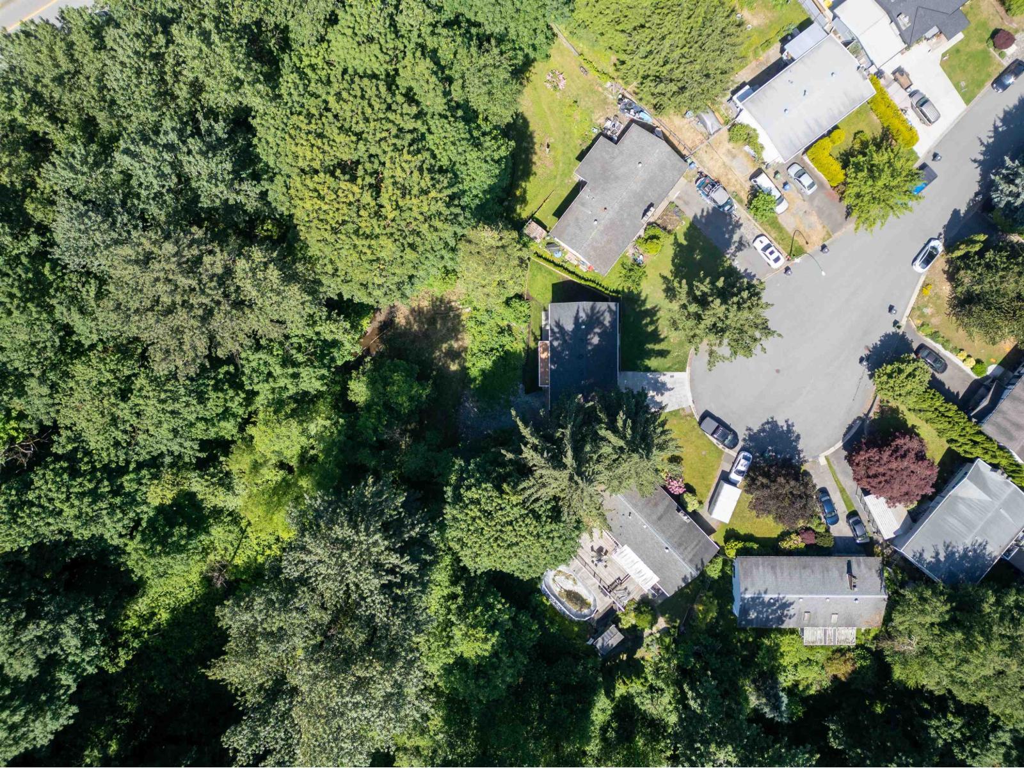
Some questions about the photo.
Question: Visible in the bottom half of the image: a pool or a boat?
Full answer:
The one visible in the bottom half of the image is a pool.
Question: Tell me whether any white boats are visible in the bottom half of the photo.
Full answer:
No, looking in the bottom half of the photo, there is no white boat.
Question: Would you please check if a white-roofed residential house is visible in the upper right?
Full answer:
Yes, there is a white-roofed residential house in the upper right.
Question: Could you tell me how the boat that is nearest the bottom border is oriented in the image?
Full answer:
The boat that is nearest the bottom border is laid out diagonally.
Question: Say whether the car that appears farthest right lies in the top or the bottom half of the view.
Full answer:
The top half of the photo is where the car that appears farthest right is.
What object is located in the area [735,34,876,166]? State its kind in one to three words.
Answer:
house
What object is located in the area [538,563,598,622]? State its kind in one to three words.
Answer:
swimming pool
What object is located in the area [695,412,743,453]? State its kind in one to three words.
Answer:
truck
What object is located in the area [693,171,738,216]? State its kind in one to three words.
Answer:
boat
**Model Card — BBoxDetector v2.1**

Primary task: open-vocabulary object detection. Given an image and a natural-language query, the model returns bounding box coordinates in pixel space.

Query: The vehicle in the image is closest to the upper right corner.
[988,56,1024,96]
